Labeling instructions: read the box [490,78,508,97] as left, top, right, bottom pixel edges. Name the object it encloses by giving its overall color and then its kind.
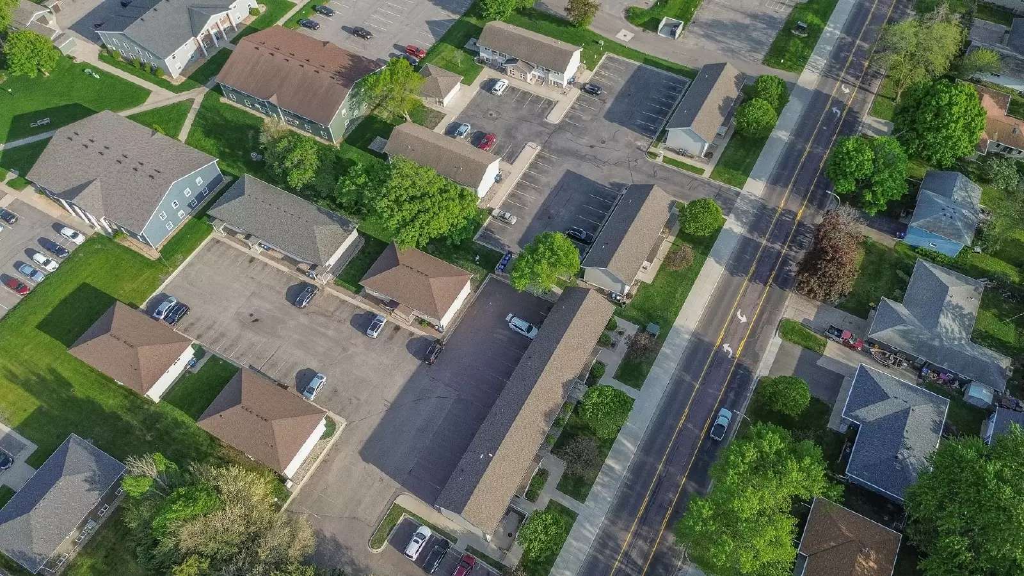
white car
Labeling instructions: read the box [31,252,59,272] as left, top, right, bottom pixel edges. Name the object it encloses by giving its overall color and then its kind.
white car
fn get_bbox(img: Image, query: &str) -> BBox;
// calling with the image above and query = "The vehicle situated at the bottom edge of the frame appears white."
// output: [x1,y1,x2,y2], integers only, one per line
[401,521,433,562]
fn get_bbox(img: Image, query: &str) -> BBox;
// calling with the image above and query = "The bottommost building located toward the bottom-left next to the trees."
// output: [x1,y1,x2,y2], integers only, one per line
[0,433,127,576]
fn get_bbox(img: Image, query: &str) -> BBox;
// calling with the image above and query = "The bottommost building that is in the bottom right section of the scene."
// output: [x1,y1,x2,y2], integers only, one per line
[788,501,893,576]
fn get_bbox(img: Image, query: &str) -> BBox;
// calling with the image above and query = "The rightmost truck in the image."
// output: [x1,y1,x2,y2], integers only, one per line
[822,322,866,350]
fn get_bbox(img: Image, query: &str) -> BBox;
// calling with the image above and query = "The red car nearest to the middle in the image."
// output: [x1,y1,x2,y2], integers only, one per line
[478,131,498,151]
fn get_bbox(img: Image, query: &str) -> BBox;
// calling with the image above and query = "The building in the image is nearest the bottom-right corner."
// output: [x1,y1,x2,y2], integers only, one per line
[982,406,1024,455]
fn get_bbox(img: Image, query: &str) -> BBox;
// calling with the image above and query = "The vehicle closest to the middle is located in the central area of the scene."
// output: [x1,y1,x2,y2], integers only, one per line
[502,310,539,337]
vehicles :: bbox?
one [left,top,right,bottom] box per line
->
[362,311,389,341]
[298,17,321,31]
[0,205,21,225]
[293,281,318,310]
[822,322,866,350]
[57,224,86,245]
[31,252,59,272]
[2,275,31,296]
[419,336,446,367]
[449,549,477,576]
[350,23,375,40]
[17,263,45,283]
[151,294,177,321]
[422,536,453,576]
[89,20,106,30]
[401,521,433,562]
[162,297,192,327]
[300,369,329,402]
[478,131,498,151]
[489,207,519,226]
[452,119,473,141]
[312,4,336,18]
[706,404,735,446]
[41,237,70,258]
[490,78,508,97]
[502,310,539,337]
[578,79,606,98]
[0,446,16,474]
